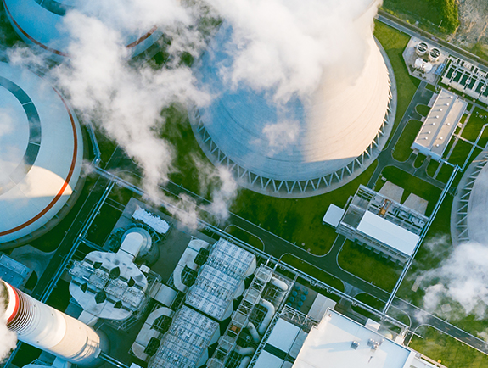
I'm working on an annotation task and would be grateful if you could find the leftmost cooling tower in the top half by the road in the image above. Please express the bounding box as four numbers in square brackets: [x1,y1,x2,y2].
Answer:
[184,0,403,201]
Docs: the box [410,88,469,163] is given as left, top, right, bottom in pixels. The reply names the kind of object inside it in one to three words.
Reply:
building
